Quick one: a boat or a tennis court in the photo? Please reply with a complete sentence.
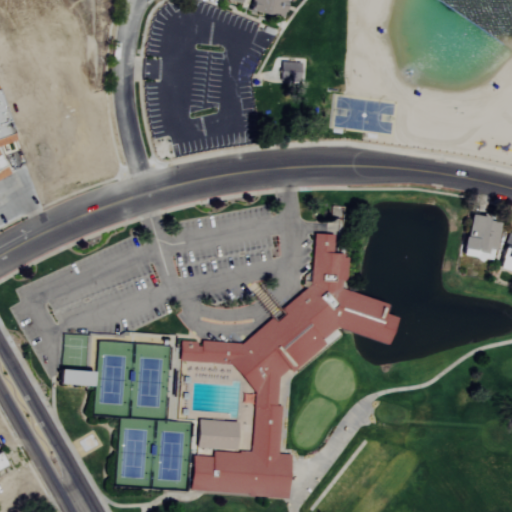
Looking from above, you can make out a tennis court.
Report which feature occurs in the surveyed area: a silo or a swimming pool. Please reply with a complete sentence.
This aerial view contains a swimming pool.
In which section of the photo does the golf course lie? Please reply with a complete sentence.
Look in the bottom right portion of the view to spot the golf course.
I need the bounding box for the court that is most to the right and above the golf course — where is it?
[330,93,398,136]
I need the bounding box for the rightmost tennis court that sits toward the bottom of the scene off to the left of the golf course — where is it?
[152,420,192,490]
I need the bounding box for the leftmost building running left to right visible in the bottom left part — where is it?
[63,370,98,386]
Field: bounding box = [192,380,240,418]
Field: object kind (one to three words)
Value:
swimming pool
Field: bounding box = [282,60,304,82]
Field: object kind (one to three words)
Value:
shed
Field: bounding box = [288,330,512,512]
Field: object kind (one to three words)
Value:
golf course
